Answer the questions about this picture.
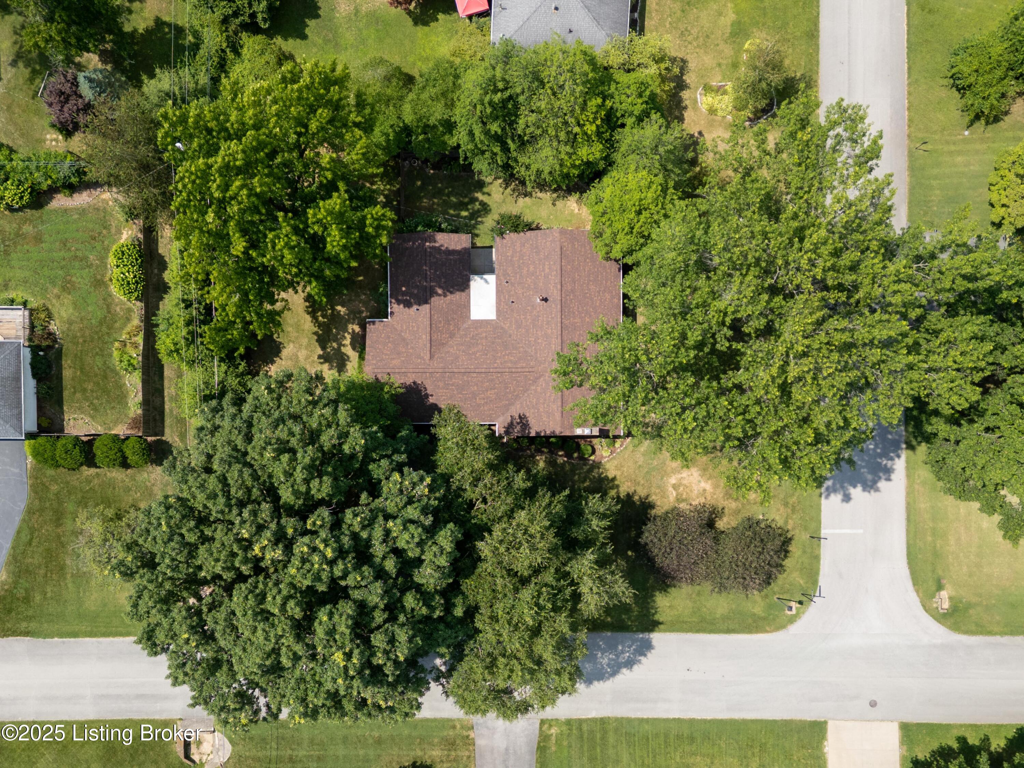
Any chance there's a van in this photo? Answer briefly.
No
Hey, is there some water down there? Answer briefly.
No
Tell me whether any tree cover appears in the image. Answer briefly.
Yes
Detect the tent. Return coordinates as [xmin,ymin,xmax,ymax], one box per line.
[456,0,490,27]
